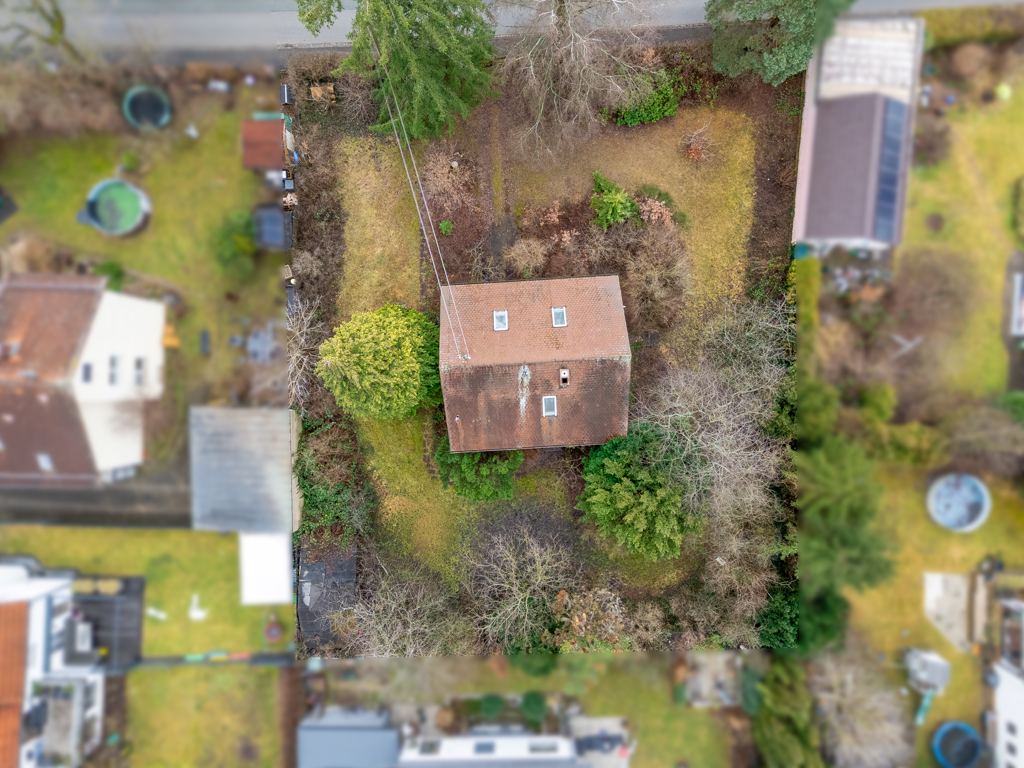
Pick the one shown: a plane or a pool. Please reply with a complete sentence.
The image shows a pool.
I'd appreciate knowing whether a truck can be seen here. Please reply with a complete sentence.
No, this view has no truck in it.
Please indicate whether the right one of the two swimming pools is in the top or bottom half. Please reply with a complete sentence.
The bottom half of the photo is where the right one of the two swimming pools is.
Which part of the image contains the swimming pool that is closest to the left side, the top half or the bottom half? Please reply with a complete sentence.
Seen from above, the swimming pool that is closest to the left side lies in the top half of the view.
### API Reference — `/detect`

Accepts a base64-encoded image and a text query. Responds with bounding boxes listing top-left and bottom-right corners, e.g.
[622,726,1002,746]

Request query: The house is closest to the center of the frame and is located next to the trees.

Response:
[440,272,633,451]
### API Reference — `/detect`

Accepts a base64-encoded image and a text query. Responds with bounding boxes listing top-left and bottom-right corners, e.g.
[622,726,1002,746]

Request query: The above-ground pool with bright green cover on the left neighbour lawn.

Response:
[88,176,156,239]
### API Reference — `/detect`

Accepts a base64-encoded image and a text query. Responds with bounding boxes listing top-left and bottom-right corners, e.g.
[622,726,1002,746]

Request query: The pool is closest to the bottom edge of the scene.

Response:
[916,468,990,534]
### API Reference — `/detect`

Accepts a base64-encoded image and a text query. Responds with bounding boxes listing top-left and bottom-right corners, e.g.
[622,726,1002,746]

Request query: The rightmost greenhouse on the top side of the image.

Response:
[993,273,1024,336]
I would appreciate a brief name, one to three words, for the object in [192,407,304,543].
building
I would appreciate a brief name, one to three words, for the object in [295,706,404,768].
building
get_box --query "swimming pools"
[916,468,990,534]
[88,176,156,239]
